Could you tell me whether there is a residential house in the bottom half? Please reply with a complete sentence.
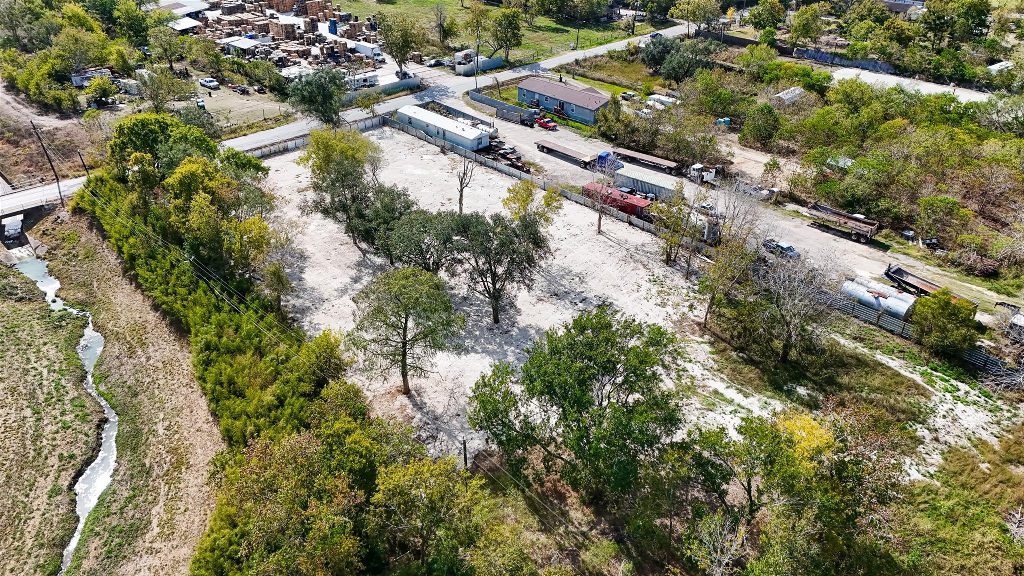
No, the scene shows no residential house in the bottom half.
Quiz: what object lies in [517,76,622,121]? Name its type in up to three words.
house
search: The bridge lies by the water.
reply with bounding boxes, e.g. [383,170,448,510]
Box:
[0,179,65,238]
